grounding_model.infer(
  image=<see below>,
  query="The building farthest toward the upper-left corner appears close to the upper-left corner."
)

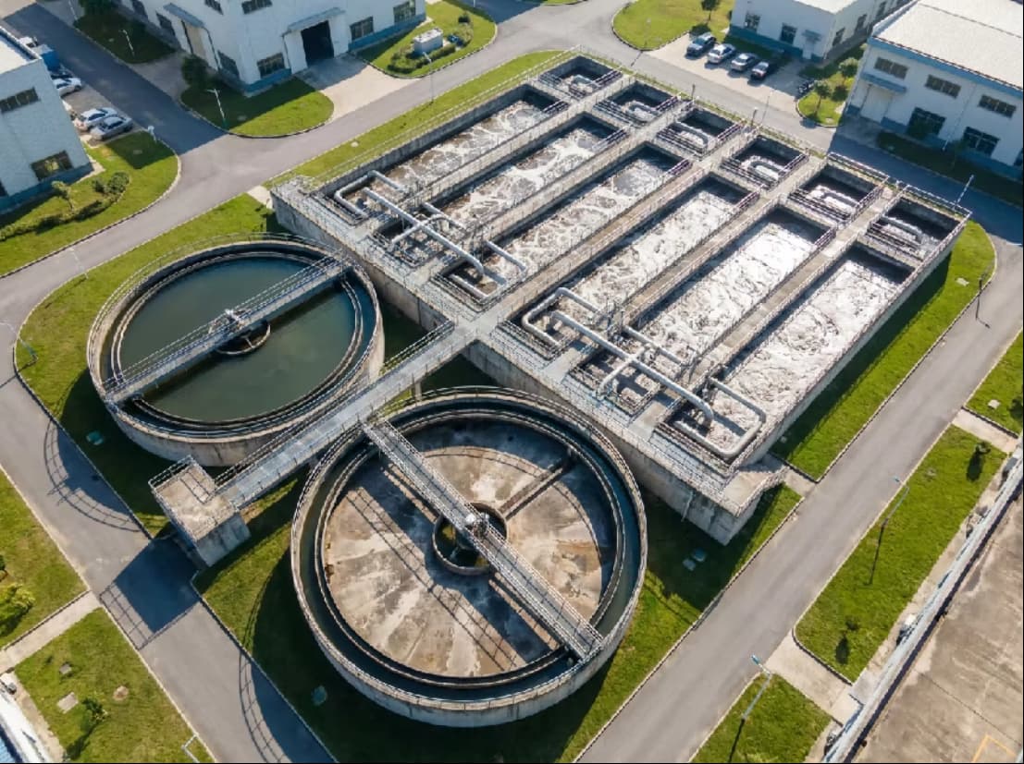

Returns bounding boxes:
[0,25,93,206]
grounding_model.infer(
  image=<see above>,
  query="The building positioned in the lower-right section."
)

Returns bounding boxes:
[828,462,1024,764]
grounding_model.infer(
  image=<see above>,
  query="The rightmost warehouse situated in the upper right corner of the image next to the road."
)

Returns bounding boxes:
[847,0,1024,180]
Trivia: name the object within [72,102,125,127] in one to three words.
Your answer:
car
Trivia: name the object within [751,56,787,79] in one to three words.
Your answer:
car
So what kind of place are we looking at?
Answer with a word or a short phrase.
industrial area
